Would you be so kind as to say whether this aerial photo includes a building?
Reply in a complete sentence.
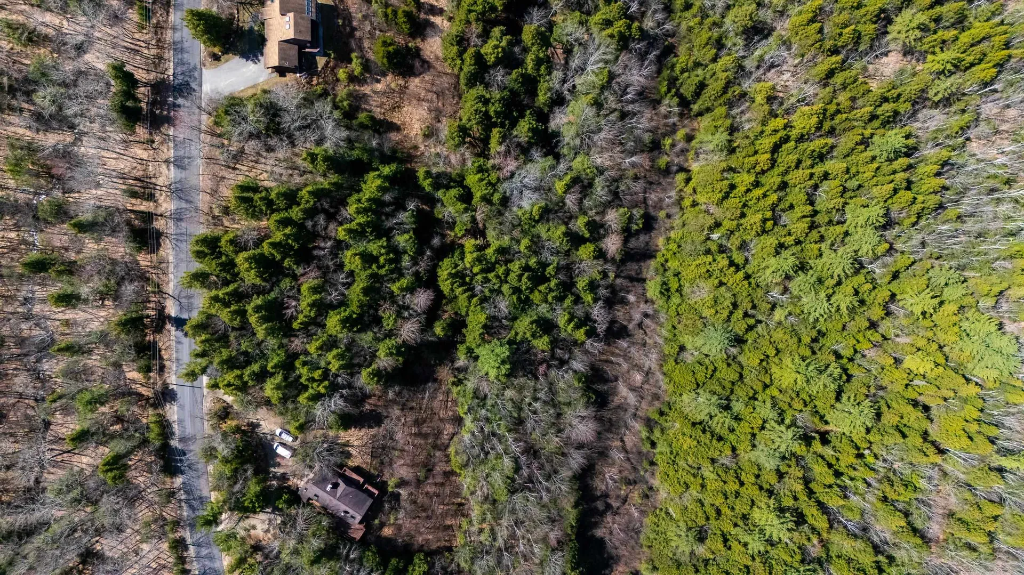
Yes, this view includes a building.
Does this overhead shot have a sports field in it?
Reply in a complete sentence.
No, no sports field is visible in the view.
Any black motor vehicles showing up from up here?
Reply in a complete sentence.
No, no black motor vehicle is visible in the scene.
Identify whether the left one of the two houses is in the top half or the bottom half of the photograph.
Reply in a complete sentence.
The left one of the two houses sits in the top half of the picture.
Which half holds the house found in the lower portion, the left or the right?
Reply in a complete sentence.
It is on the left.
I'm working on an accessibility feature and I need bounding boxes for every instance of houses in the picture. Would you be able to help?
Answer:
[299,466,380,541]
[260,0,325,75]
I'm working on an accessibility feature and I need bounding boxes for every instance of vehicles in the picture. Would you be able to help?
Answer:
[273,441,294,460]
[275,427,295,443]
